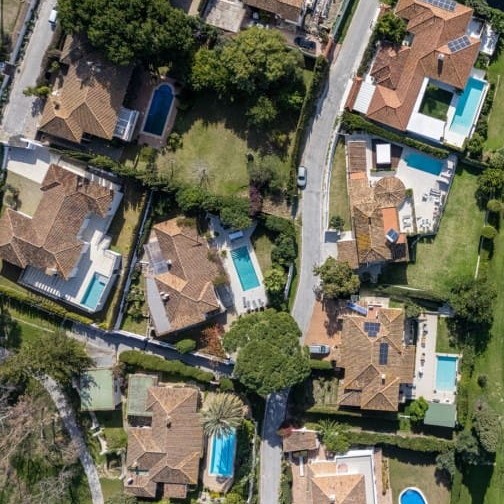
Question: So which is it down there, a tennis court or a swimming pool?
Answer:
swimming pool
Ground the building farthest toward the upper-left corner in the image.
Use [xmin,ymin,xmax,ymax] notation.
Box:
[39,30,142,142]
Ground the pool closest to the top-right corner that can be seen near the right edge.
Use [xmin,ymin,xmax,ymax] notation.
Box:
[448,76,488,139]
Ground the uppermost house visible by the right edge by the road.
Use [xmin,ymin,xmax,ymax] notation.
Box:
[366,0,481,144]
